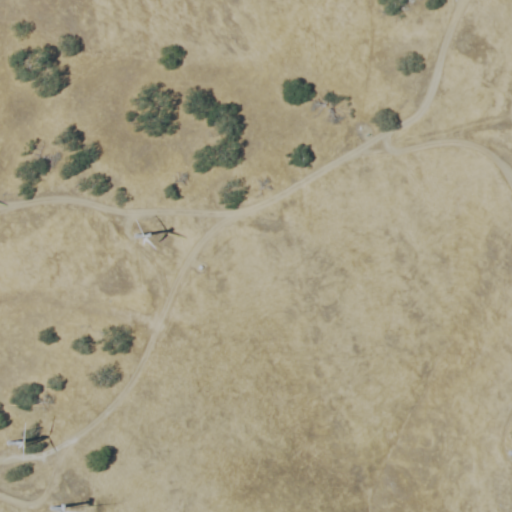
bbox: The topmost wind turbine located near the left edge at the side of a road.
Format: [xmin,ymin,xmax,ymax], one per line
[5,425,28,460]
